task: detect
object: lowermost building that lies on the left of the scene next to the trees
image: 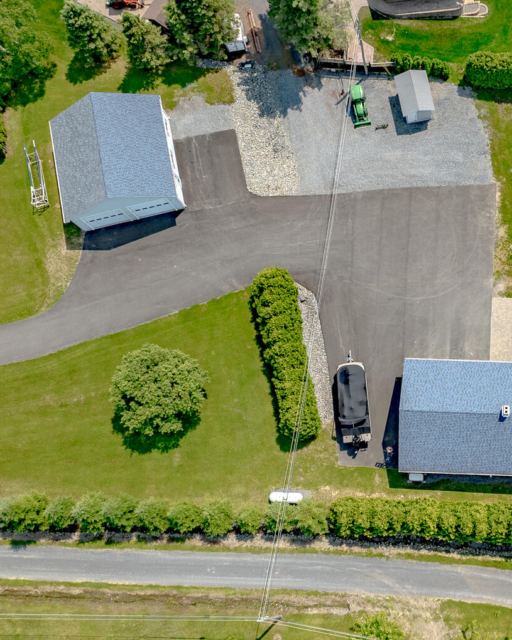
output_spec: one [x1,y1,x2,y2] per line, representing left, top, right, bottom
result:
[48,92,183,232]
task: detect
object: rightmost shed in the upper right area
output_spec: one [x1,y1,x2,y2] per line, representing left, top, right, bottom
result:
[394,65,434,128]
